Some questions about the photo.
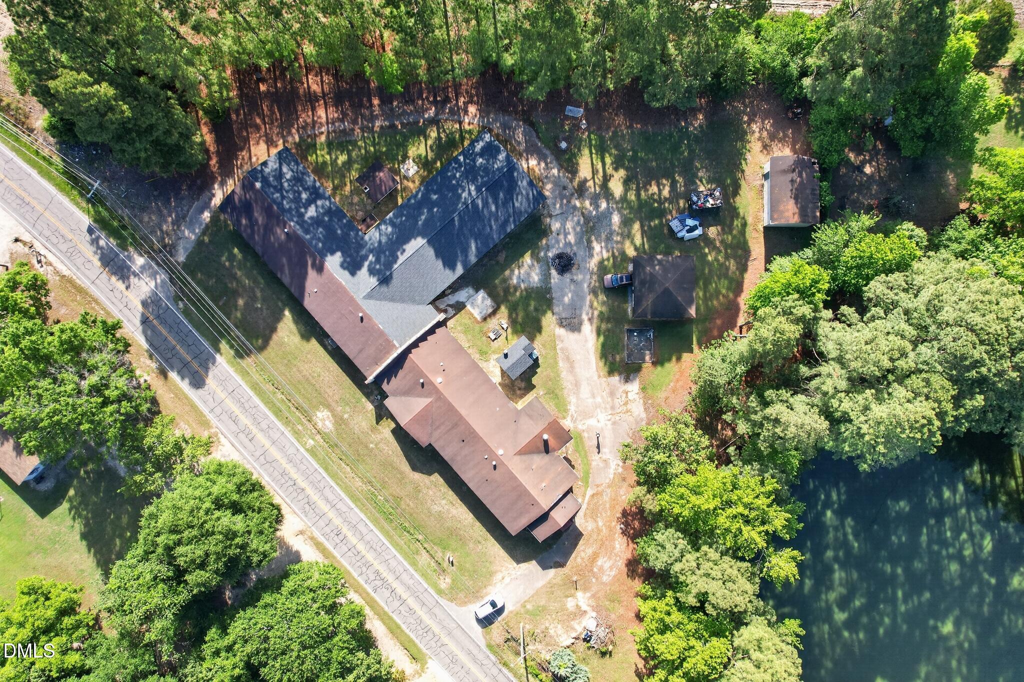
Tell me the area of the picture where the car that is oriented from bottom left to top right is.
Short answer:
bottom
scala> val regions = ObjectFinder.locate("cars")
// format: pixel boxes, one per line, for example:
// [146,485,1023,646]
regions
[473,596,506,622]
[606,272,632,288]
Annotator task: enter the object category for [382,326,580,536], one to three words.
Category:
house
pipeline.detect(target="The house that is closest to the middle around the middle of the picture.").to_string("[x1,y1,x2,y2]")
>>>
[496,335,539,380]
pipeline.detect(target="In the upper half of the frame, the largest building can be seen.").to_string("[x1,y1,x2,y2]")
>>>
[219,129,547,382]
